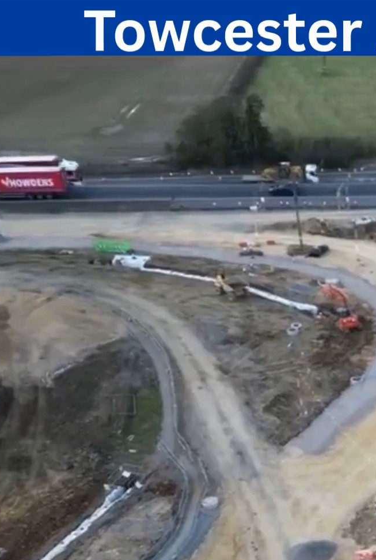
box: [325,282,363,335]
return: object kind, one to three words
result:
work vehicle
